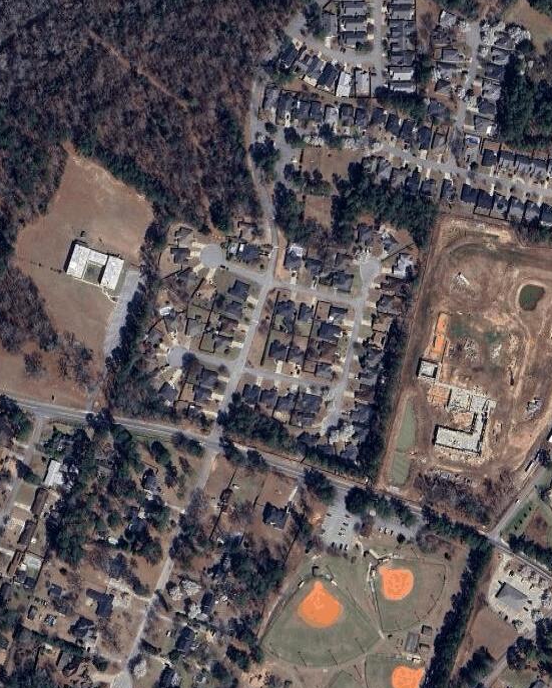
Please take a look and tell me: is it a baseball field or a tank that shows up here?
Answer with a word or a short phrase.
baseball field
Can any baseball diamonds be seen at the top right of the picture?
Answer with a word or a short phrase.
No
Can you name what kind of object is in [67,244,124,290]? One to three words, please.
building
